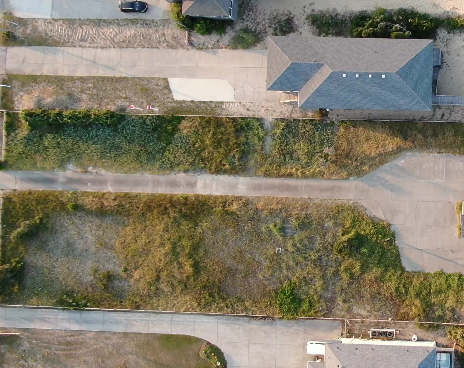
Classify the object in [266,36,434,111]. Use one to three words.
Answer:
house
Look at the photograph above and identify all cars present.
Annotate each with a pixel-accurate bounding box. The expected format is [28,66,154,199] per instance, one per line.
[300,342,325,358]
[117,0,146,13]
